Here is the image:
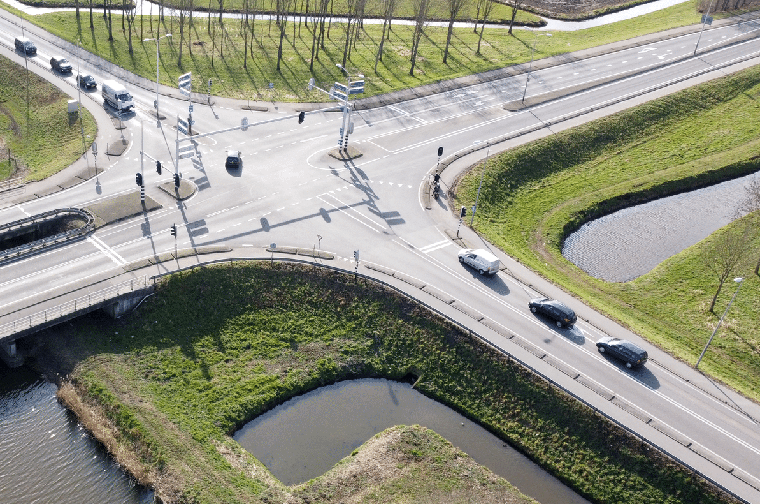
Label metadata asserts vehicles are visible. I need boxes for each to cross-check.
[225,146,242,164]
[527,296,582,330]
[102,78,138,112]
[434,182,443,199]
[455,246,504,278]
[595,335,652,370]
[73,71,99,90]
[48,53,77,73]
[13,33,40,54]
